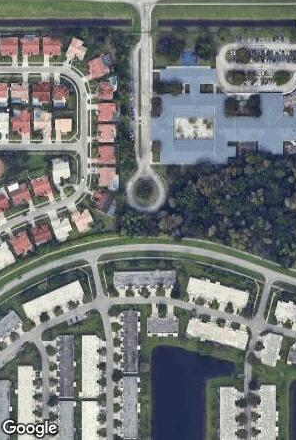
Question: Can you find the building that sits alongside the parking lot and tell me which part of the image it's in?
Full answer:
The building that sits alongside the parking lot is located in the top right region of the scene.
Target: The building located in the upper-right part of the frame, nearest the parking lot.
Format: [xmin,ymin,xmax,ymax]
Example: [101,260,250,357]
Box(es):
[150,69,296,165]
